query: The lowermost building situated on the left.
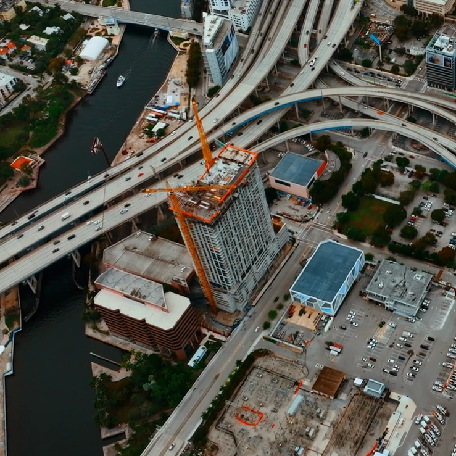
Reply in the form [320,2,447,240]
[94,286,201,359]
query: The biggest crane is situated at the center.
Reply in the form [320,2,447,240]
[145,184,236,311]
